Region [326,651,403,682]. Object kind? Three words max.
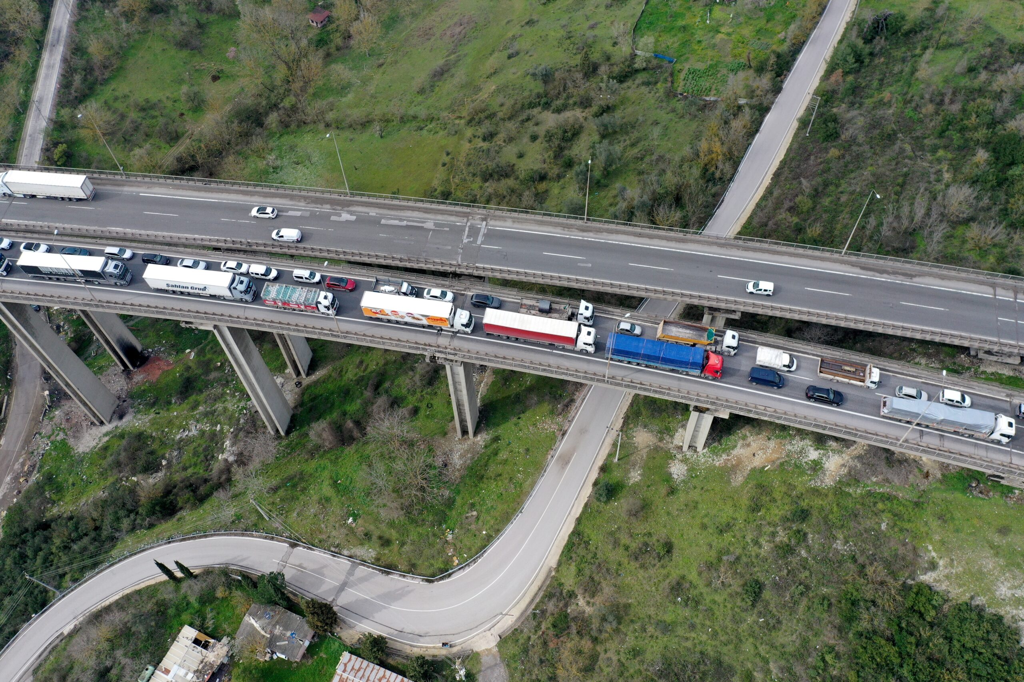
shed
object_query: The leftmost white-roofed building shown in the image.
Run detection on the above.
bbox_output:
[144,626,219,682]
